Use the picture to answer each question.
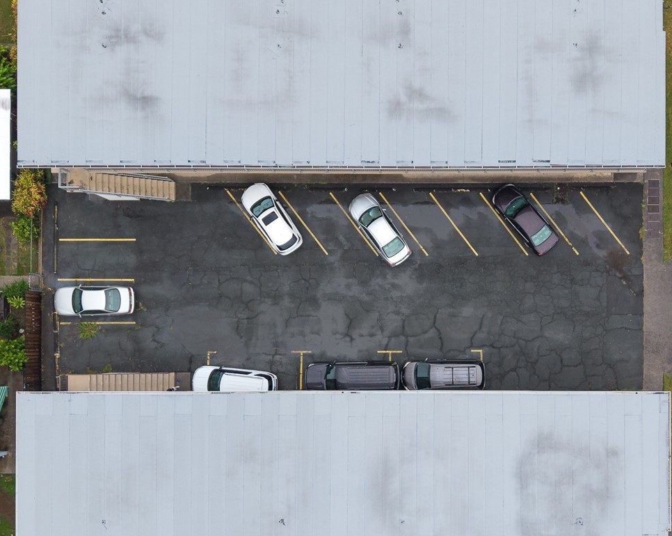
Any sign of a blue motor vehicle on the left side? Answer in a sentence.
No, no blue motor vehicle can be made out on the left side.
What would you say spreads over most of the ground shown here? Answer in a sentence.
For the most part, this view shows buildings.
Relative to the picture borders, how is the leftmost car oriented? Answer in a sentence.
The leftmost car has been laid out from left to right relative to the frame.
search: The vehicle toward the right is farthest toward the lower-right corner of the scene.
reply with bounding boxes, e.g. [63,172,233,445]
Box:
[401,359,486,391]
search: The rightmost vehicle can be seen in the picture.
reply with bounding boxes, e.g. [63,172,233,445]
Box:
[493,184,559,257]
